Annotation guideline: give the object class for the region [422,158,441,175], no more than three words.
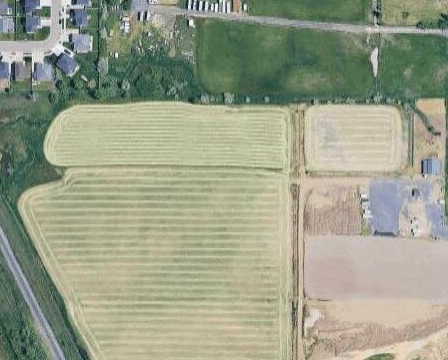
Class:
barn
